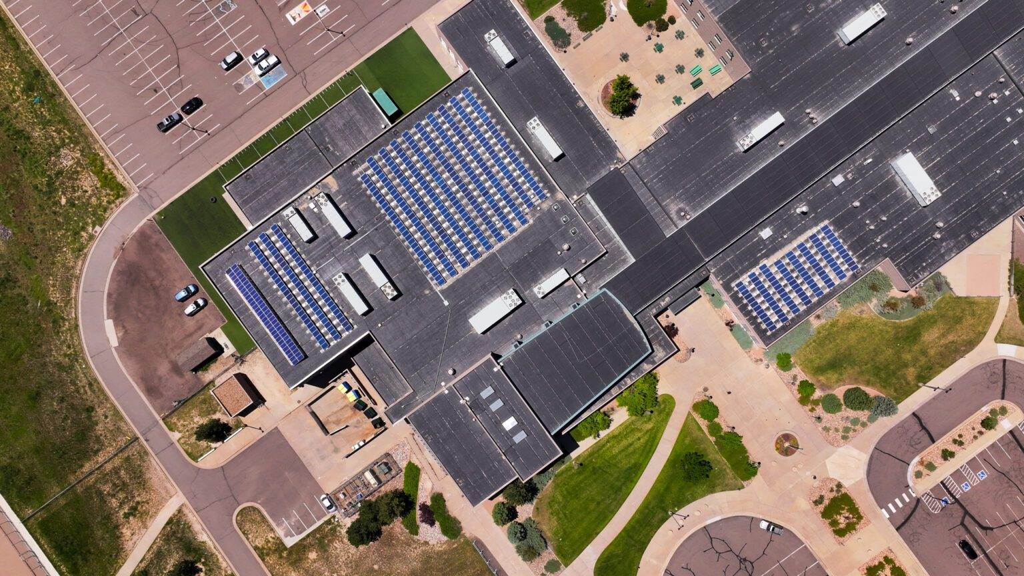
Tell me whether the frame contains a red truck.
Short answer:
No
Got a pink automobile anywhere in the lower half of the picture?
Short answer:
No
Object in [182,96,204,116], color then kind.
black car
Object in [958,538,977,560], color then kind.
black car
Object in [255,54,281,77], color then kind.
white truck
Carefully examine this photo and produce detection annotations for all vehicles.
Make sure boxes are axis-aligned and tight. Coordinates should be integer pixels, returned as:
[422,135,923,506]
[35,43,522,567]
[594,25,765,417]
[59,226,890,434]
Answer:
[255,54,281,77]
[758,520,784,535]
[319,491,337,511]
[182,96,204,116]
[176,284,198,301]
[958,538,977,560]
[155,112,183,134]
[222,52,244,71]
[185,297,207,315]
[249,47,271,65]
